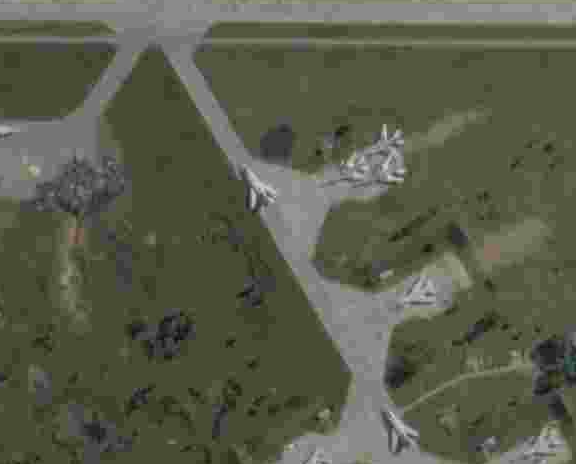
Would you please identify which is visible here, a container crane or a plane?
plane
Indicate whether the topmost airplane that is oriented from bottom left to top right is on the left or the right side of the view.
right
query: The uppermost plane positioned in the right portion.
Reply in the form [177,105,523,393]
[357,126,403,160]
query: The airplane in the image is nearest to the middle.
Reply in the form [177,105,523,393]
[244,168,279,213]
